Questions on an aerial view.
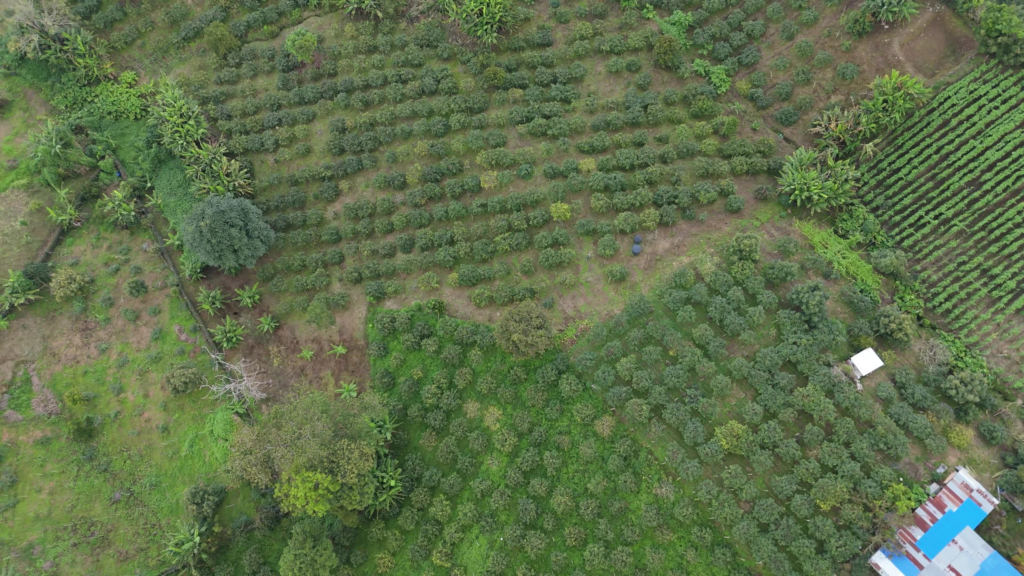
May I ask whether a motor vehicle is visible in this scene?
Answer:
No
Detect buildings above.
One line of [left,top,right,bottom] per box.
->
[865,468,1022,576]
[845,347,884,380]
